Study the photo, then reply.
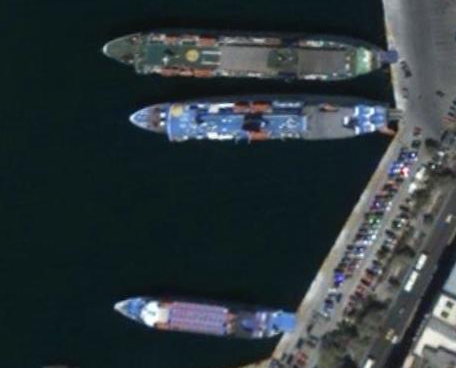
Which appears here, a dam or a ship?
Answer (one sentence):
There is a ship in the scene.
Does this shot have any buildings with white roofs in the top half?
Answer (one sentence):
No, there is no building with a white roof in the top half.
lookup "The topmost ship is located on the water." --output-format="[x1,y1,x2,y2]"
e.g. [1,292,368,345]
[103,31,397,80]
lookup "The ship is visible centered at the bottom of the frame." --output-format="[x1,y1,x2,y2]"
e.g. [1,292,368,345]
[115,296,296,337]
